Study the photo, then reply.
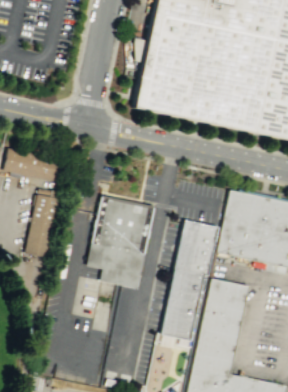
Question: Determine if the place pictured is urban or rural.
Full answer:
From above, the setting appears urban.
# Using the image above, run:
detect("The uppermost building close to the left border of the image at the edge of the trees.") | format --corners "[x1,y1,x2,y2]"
[5,144,58,180]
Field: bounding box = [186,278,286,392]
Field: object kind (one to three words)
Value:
building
